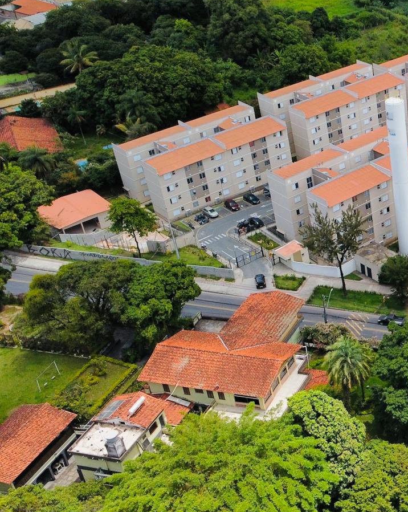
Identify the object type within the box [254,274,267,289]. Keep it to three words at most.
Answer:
vehicle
